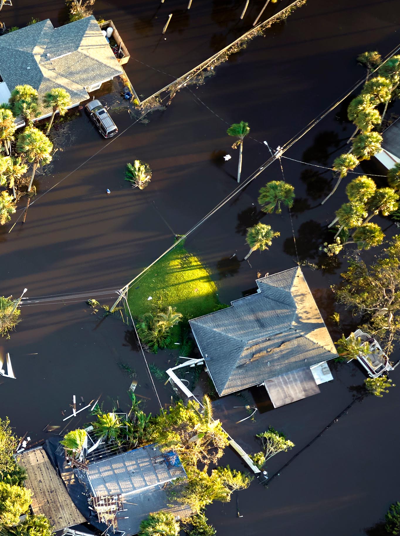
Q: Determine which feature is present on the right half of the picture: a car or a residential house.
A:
residential house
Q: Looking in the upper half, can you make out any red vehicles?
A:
No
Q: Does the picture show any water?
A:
Yes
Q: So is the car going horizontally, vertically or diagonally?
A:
diagonally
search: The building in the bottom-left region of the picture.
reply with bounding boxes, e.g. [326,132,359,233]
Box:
[11,438,187,536]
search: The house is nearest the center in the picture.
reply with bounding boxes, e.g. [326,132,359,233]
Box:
[187,266,339,409]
